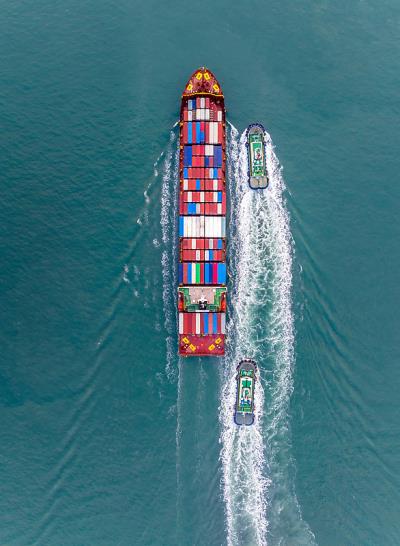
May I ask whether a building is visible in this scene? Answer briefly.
No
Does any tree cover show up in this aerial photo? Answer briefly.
No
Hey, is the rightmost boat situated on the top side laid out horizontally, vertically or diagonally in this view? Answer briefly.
vertically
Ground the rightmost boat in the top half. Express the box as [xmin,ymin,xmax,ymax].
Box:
[246,122,269,189]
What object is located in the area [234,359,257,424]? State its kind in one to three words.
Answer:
boat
